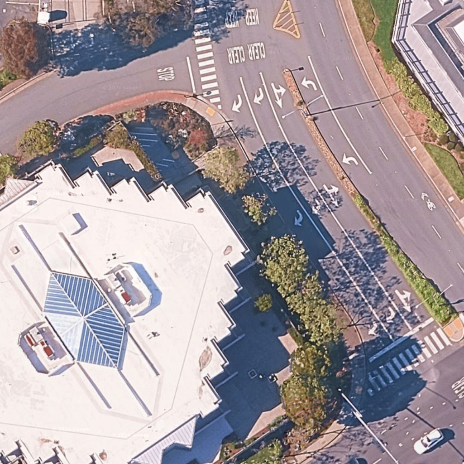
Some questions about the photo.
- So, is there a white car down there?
Yes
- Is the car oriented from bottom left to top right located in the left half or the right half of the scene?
right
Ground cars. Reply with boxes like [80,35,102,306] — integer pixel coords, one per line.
[413,428,445,455]
[342,455,362,464]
